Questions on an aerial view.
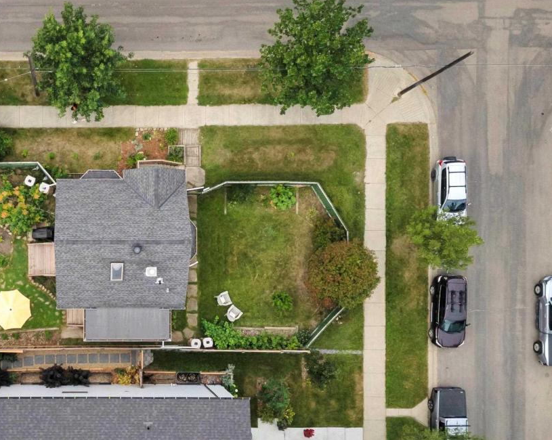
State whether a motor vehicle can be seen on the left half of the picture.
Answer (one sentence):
No, the scene shows no motor vehicle on the left half of the picture.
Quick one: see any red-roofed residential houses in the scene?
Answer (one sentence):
No, I find no red-roofed residential house anywhere in the image.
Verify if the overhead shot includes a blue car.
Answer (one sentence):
No, there appears to be no blue car in this shot.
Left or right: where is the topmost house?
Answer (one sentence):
The topmost house sits on the left side.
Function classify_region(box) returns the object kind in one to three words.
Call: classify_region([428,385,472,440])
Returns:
truck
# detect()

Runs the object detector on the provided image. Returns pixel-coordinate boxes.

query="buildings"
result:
[53,159,203,348]
[0,380,258,440]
